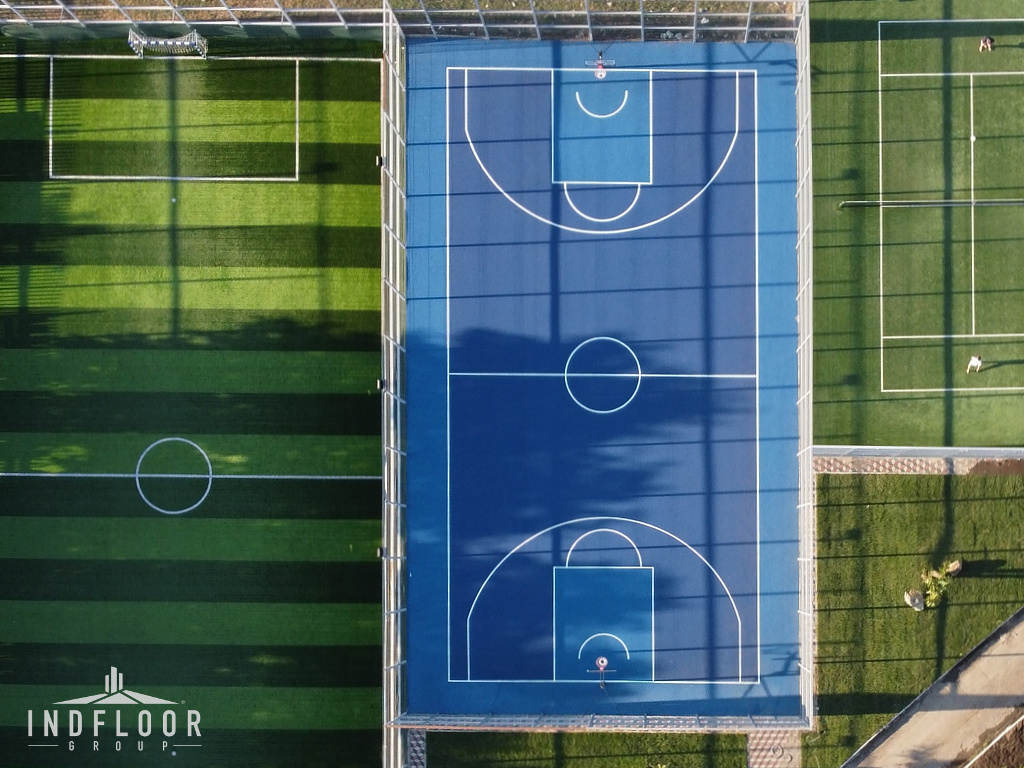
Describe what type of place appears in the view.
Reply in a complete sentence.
The area seen from above is a sports ground.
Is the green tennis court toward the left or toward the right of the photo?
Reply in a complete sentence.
You can find the green tennis court on the right side of the picture.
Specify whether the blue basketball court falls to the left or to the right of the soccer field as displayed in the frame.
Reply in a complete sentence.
The blue basketball court is to the right of the soccer field.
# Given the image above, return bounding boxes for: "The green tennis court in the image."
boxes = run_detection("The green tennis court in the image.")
[798,0,1024,458]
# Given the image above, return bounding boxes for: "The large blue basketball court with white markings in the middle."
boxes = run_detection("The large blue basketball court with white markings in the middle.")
[405,38,801,717]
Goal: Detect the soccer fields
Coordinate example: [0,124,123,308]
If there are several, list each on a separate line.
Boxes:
[0,38,385,768]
